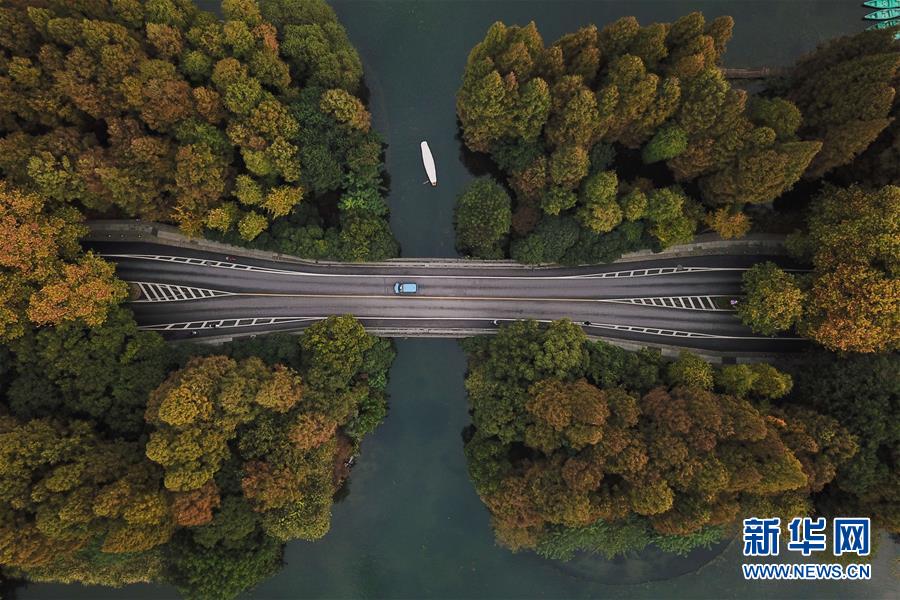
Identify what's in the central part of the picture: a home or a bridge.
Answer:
bridge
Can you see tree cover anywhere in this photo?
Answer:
Yes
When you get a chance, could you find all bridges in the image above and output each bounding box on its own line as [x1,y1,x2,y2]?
[391,258,477,337]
